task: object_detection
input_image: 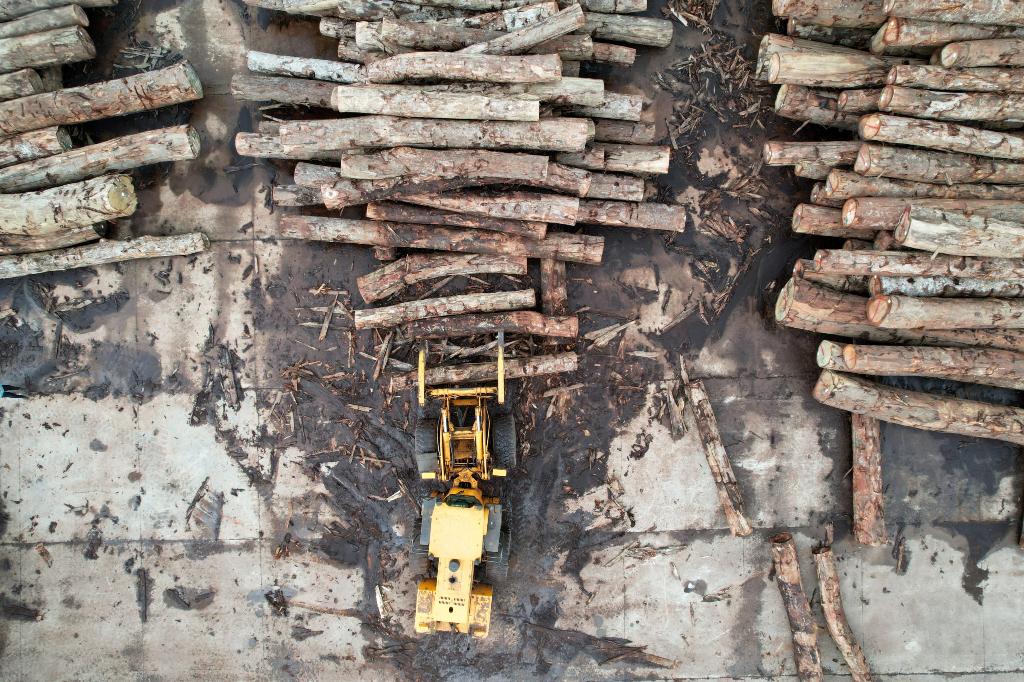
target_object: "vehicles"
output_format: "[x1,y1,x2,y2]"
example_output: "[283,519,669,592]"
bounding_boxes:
[406,331,517,654]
